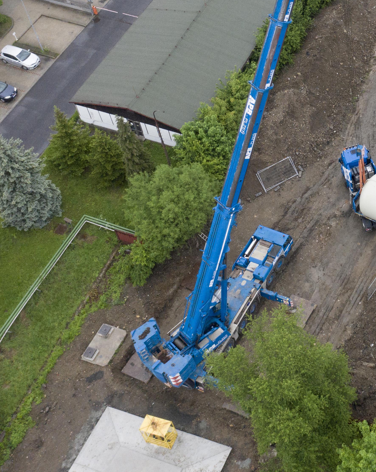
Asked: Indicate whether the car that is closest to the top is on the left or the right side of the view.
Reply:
left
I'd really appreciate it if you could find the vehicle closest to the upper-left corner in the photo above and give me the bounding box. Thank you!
[0,47,41,71]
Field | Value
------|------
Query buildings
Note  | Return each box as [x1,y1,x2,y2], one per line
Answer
[69,406,232,472]
[66,0,277,145]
